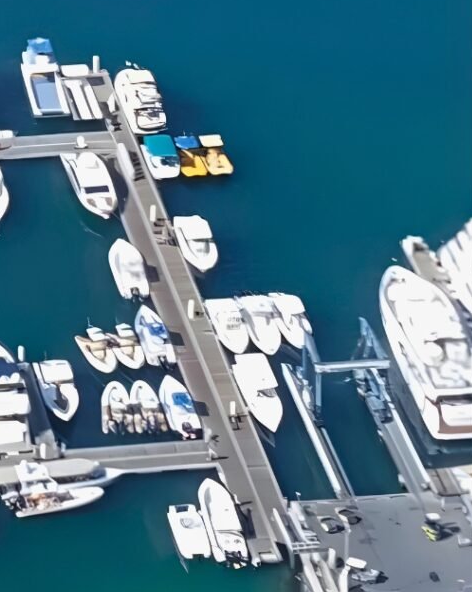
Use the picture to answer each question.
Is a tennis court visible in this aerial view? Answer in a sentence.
No, no tennis court can be seen from above.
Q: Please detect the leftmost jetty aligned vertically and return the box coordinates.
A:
[18,362,59,452]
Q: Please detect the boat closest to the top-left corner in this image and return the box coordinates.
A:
[19,37,73,117]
